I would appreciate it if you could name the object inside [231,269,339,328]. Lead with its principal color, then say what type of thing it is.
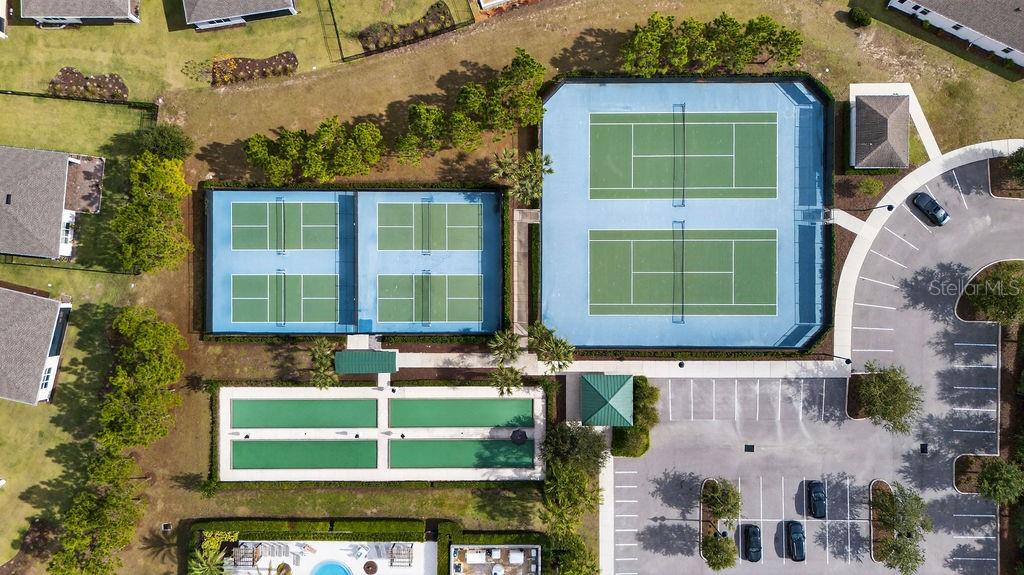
green sports court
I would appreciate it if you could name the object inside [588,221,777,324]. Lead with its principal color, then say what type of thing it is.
green tennis court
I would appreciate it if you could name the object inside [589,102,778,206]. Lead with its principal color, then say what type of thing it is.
green tennis court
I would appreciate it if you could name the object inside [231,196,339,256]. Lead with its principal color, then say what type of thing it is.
green sports court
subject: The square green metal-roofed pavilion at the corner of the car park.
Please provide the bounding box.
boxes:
[580,375,633,427]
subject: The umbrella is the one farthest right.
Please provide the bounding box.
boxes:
[510,428,527,445]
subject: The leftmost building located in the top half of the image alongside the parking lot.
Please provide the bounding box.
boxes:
[849,95,910,169]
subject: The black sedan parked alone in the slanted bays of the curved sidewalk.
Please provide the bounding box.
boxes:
[914,192,950,225]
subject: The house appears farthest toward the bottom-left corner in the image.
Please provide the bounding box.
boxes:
[0,289,71,408]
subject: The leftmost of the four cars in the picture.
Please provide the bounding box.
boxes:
[743,522,762,561]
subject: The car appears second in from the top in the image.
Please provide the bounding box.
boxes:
[807,478,827,518]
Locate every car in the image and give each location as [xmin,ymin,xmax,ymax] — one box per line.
[914,192,950,225]
[743,522,762,561]
[807,478,827,518]
[786,520,806,560]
